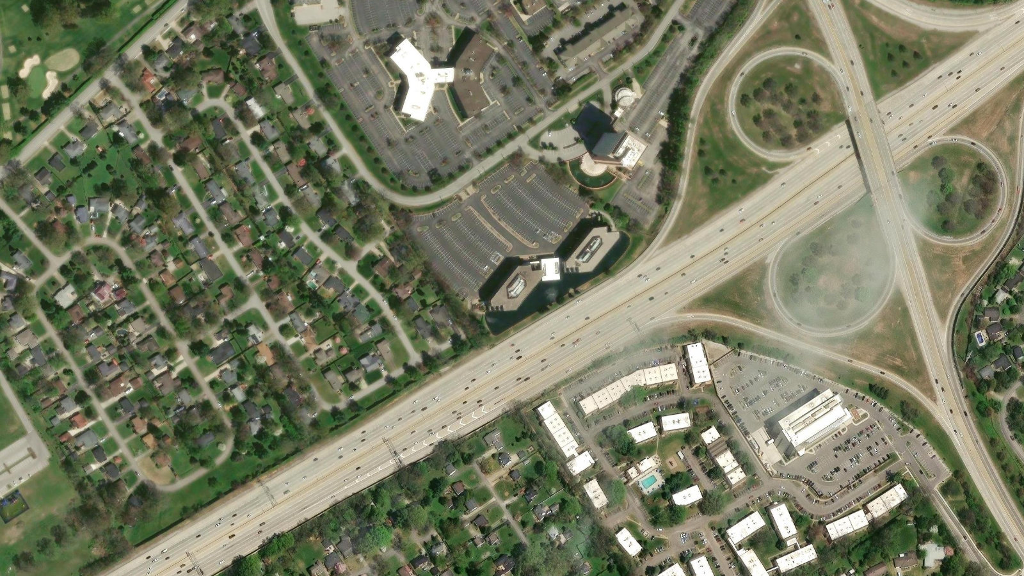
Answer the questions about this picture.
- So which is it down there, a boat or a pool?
pool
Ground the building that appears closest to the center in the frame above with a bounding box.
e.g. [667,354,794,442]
[485,266,542,313]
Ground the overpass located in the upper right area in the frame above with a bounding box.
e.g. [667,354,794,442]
[842,92,906,210]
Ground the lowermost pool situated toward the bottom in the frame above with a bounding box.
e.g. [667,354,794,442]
[636,467,664,493]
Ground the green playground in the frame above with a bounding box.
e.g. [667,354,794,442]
[0,490,29,524]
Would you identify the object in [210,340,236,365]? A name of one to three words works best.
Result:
house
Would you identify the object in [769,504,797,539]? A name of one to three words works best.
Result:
building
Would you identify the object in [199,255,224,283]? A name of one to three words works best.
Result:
house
